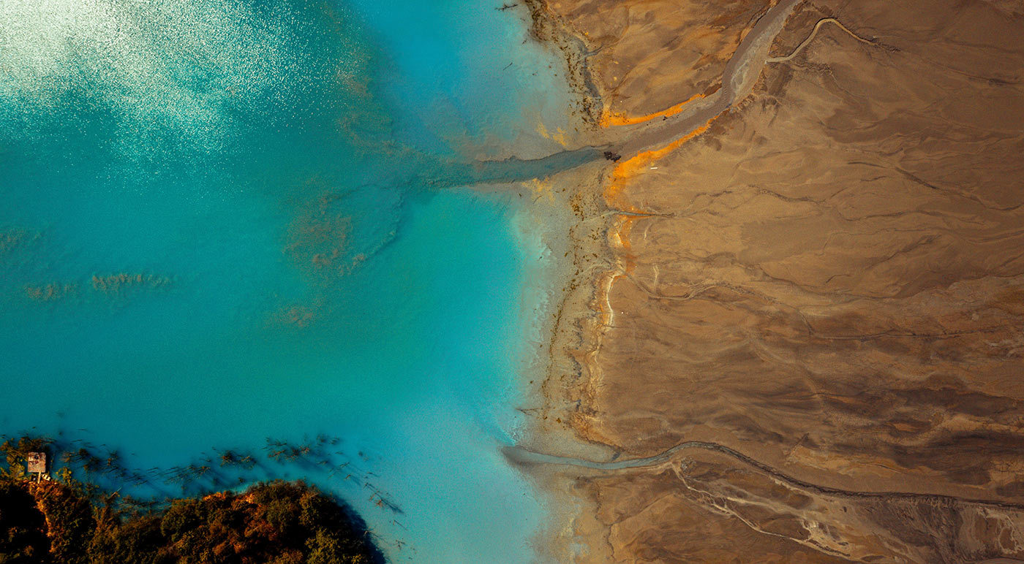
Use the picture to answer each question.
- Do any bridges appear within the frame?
No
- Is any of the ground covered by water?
Yes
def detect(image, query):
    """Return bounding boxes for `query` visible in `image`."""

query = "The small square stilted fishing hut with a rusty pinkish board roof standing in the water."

[28,451,51,473]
